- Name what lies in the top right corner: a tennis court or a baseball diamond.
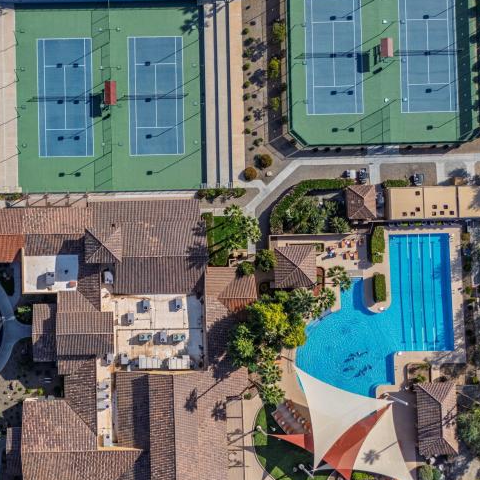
tennis court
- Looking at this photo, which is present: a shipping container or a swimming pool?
swimming pool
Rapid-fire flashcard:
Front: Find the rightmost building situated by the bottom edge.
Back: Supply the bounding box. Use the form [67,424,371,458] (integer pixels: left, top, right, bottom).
[409,382,459,457]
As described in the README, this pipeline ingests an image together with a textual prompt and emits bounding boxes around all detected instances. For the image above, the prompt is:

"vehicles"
[410,173,421,186]
[346,167,356,180]
[356,168,367,181]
